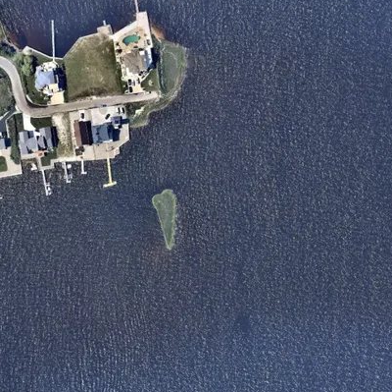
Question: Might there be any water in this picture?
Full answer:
Yes, there's water in this view.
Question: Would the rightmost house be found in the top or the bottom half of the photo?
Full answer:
The top half of the photo is where the rightmost house is.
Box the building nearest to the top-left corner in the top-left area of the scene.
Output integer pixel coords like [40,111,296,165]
[34,68,59,92]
